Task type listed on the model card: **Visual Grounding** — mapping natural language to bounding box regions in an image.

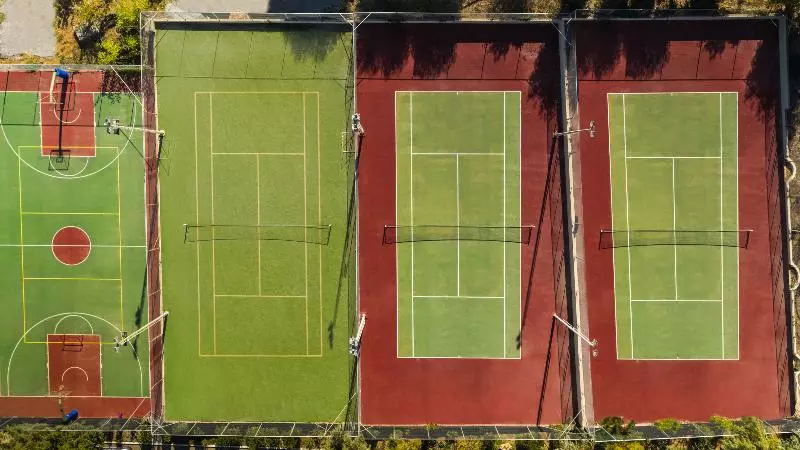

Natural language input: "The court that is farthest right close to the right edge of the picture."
[564,18,797,427]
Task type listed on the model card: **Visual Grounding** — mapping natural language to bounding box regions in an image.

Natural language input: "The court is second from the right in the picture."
[357,22,580,425]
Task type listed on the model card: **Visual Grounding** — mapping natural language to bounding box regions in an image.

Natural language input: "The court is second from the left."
[156,24,360,423]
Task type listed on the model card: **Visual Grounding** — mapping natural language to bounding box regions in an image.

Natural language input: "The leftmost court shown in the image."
[0,69,162,425]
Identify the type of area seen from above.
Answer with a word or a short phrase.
sports ground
